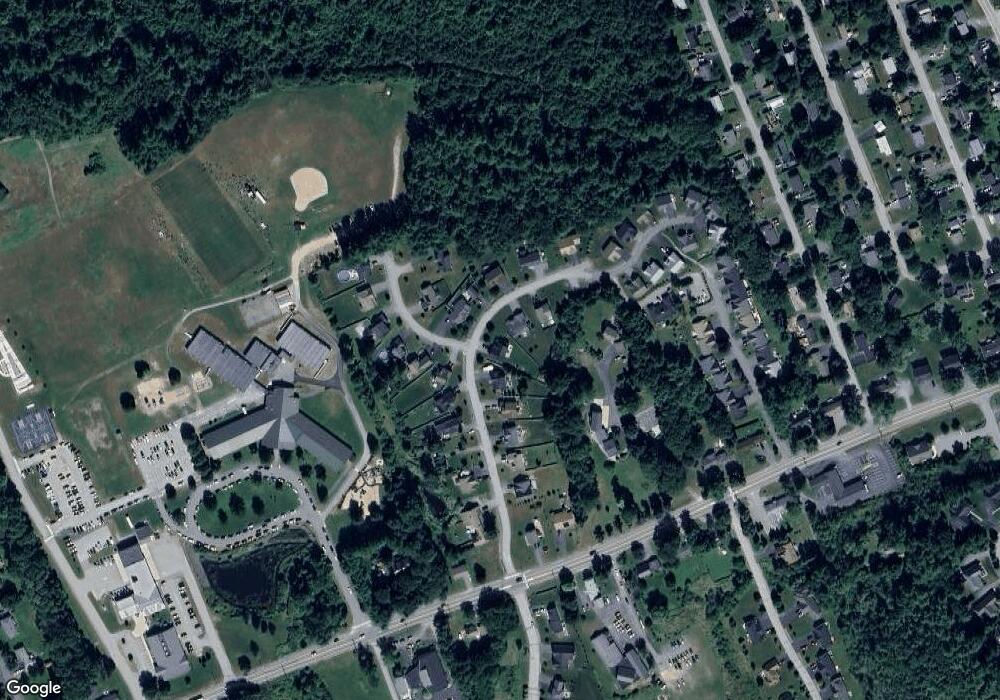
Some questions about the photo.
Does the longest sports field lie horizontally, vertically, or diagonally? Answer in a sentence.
In this picture, the longest sports field is oriented diagonally.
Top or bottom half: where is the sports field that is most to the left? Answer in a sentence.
You can find the sports field that is most to the left in the top half.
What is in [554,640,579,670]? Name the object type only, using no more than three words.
house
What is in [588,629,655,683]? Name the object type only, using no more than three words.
building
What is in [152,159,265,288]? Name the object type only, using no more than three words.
sports field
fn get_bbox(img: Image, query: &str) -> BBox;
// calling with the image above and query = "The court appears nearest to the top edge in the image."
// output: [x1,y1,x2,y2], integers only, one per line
[241,292,281,328]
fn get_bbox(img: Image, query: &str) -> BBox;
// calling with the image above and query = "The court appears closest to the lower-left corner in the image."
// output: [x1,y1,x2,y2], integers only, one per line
[12,408,58,454]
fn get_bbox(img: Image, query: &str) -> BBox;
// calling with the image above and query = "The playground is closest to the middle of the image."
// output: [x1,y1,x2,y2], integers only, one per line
[341,453,384,507]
